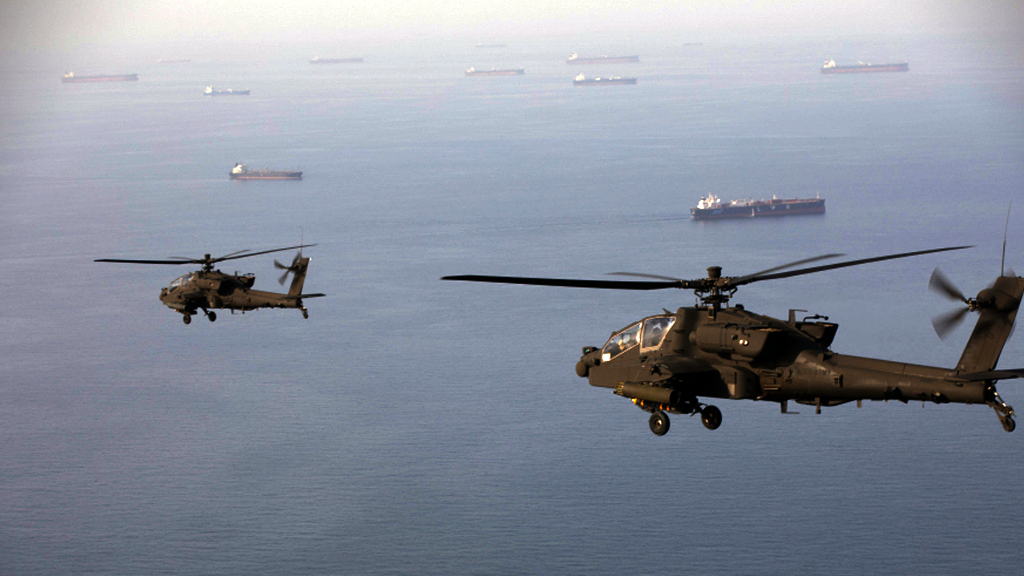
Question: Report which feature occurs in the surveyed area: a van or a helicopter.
helicopter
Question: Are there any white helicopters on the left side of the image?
No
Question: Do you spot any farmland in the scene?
No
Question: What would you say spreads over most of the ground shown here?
water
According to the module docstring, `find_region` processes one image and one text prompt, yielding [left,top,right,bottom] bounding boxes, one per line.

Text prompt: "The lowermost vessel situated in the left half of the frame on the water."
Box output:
[230,163,301,179]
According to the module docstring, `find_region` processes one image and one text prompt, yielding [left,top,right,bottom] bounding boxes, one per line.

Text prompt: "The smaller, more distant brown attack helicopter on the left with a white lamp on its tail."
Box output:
[94,245,327,324]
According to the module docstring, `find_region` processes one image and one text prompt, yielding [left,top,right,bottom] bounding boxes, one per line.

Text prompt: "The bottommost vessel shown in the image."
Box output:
[689,191,825,221]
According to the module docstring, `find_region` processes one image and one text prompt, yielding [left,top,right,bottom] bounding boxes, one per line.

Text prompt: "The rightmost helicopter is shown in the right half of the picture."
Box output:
[436,202,1024,438]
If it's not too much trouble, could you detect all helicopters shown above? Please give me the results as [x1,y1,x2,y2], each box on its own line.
[94,245,327,324]
[436,202,1024,438]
